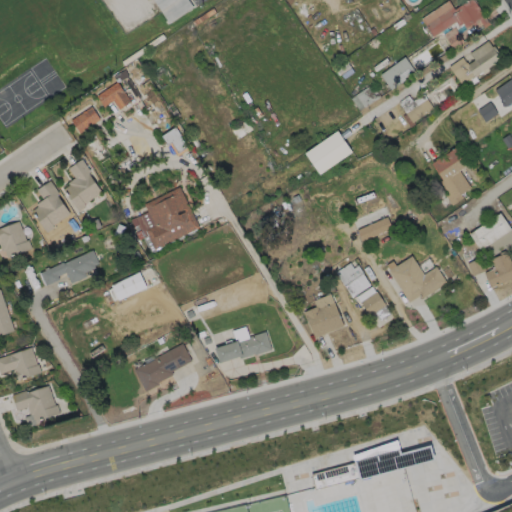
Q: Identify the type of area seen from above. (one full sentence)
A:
It's a residential area.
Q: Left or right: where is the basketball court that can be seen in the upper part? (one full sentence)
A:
The basketball court that can be seen in the upper part appears in the left half of the scene.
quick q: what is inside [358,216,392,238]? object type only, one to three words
shed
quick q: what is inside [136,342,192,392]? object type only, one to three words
house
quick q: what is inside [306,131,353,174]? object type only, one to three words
barn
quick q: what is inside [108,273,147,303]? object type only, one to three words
building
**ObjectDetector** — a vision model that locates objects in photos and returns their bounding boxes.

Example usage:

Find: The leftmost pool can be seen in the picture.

[1,206,18,223]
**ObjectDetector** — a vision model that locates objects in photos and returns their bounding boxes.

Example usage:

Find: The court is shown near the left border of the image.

[0,58,66,126]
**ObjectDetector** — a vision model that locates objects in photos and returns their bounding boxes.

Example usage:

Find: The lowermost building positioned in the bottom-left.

[12,384,60,426]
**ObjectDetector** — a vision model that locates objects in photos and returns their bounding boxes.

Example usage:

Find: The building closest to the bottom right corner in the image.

[314,464,358,490]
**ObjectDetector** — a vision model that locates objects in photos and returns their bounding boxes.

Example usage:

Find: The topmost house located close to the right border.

[422,0,489,36]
